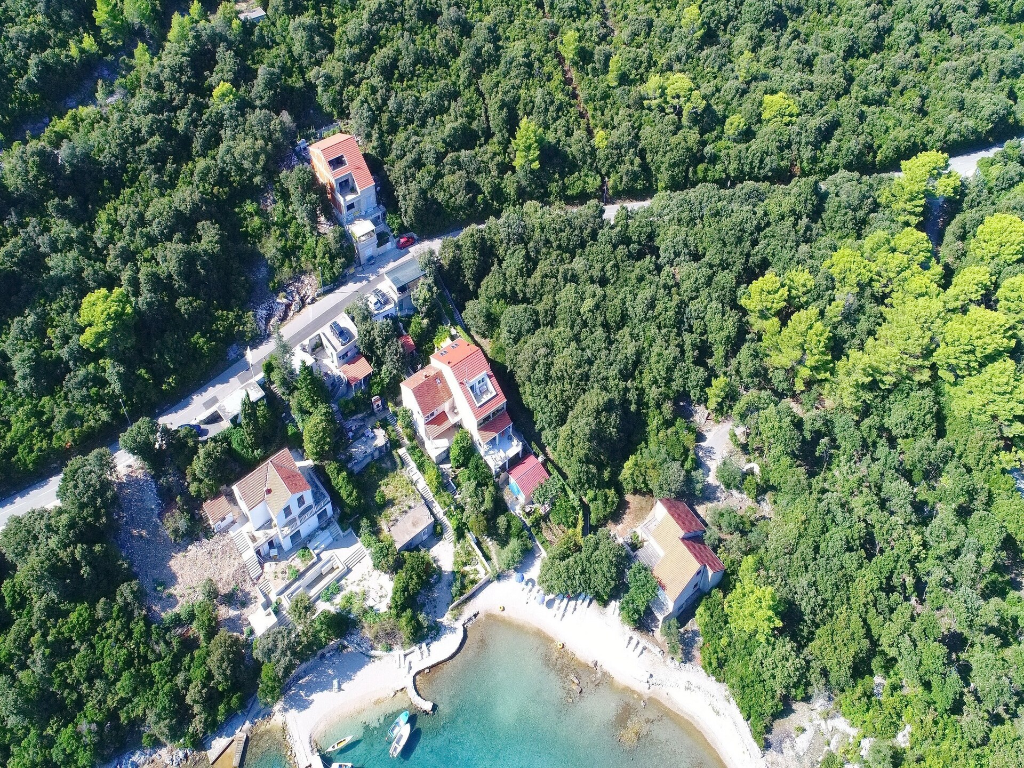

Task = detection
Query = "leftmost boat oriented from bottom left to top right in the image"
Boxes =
[326,734,353,753]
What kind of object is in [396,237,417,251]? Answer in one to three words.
car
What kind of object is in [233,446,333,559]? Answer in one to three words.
house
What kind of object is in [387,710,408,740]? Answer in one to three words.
boat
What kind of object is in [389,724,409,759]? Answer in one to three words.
boat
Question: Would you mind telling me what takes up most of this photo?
trees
